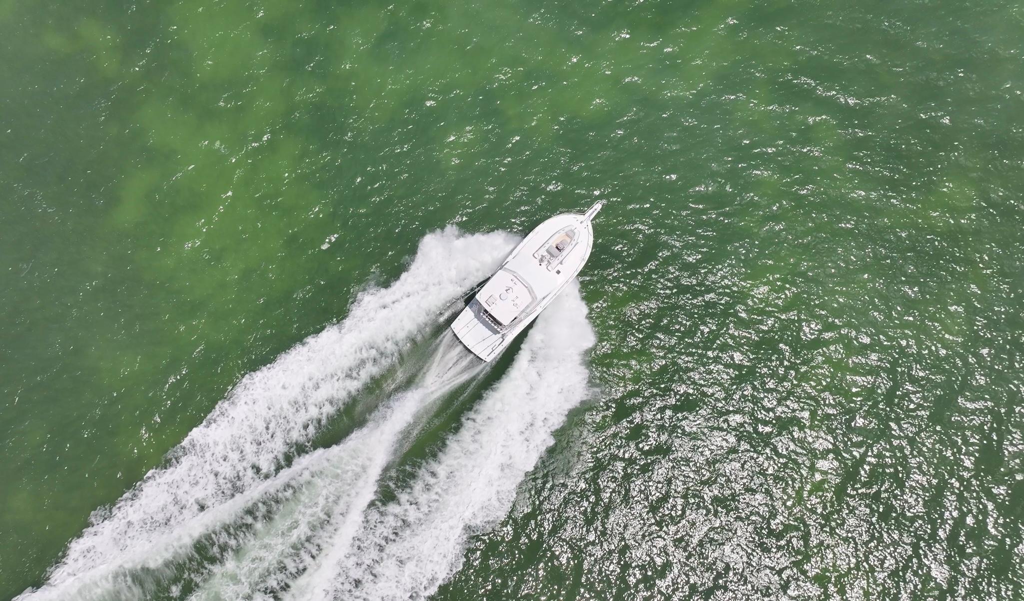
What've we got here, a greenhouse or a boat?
boat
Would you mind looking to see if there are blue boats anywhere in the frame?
No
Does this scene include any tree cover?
No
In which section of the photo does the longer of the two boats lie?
center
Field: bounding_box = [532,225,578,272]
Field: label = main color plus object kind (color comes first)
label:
white boat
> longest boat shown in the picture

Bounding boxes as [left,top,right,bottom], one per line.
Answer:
[423,199,606,364]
